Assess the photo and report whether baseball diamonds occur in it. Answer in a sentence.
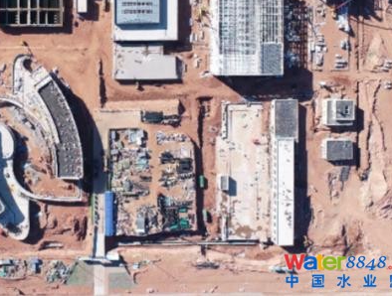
No, the photo shows no baseball diamond.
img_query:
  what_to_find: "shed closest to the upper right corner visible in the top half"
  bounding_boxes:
[322,101,355,124]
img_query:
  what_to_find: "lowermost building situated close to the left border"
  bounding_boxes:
[0,56,84,240]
